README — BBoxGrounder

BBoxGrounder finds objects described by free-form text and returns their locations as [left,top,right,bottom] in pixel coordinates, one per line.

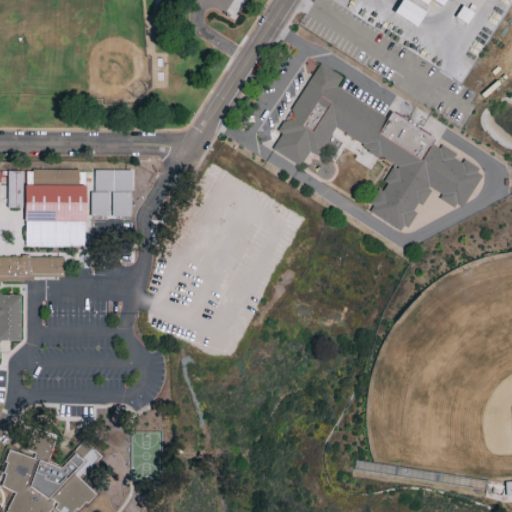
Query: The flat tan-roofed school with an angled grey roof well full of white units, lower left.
[2,433,102,512]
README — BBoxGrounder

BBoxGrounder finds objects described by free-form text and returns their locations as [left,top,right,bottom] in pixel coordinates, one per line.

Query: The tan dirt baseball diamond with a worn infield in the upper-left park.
[90,37,150,104]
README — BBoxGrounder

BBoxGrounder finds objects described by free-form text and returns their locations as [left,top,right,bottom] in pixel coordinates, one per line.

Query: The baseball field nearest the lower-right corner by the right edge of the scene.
[367,252,512,480]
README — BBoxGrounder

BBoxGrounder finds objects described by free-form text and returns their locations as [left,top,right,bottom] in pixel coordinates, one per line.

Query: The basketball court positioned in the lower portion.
[131,432,162,480]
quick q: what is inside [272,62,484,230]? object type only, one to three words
building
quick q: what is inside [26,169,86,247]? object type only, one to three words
building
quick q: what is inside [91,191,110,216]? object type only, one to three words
shed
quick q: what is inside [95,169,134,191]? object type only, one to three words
shed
